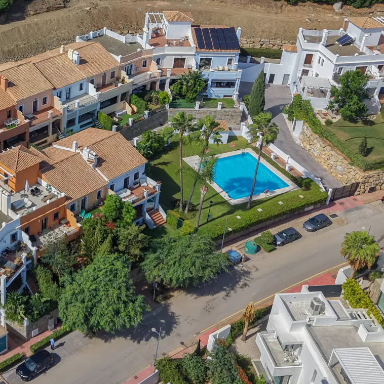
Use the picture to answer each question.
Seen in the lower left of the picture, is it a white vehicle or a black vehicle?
black vehicle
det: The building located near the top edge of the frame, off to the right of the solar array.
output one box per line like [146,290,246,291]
[292,13,384,110]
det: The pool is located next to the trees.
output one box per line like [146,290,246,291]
[184,148,300,208]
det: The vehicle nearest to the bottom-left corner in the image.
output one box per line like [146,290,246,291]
[14,345,54,382]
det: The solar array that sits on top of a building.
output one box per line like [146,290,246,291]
[195,27,239,49]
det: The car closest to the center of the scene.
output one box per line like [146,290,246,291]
[276,224,303,245]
